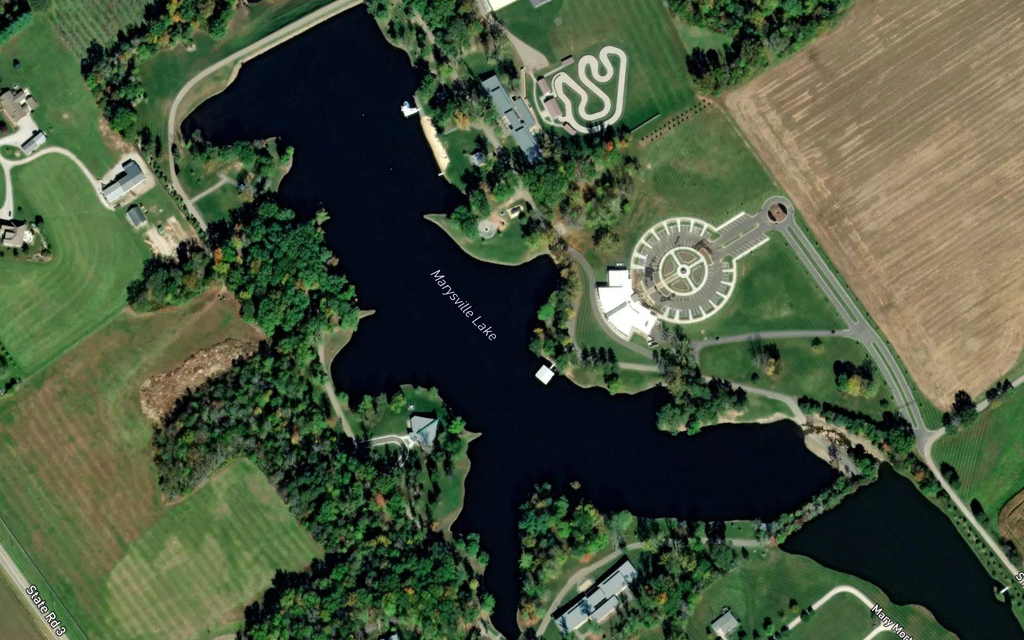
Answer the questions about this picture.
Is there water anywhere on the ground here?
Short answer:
Yes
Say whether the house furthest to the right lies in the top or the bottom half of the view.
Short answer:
bottom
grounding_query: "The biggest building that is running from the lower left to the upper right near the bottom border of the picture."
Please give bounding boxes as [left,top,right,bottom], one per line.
[556,561,638,632]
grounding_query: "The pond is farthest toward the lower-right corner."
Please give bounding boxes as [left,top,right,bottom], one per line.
[779,461,1024,640]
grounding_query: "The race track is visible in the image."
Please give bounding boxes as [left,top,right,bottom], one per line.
[554,45,628,135]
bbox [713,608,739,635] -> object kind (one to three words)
house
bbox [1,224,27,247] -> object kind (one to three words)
house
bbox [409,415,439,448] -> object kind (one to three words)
building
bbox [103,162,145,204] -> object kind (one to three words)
barn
